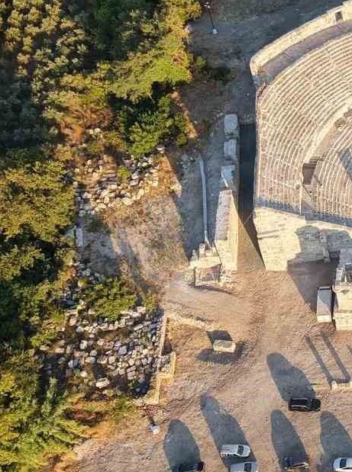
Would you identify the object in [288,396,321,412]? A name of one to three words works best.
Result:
car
